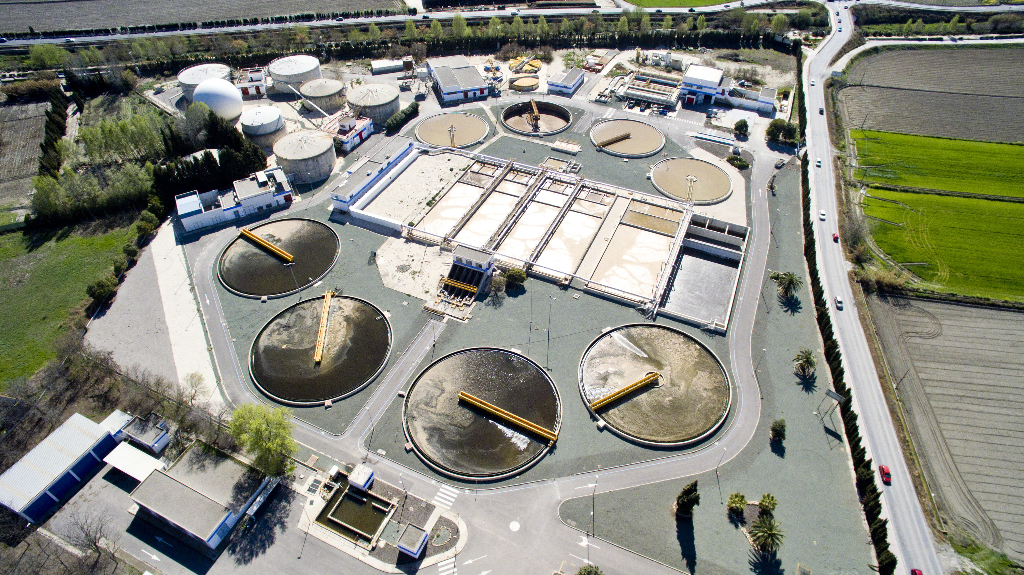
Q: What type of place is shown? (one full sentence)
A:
It's an industrial area.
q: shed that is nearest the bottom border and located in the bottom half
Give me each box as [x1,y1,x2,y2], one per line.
[397,523,430,559]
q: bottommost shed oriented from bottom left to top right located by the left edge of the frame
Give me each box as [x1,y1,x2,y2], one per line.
[0,412,119,524]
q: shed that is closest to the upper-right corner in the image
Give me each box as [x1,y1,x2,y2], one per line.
[754,89,777,112]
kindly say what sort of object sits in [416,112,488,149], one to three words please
storage tank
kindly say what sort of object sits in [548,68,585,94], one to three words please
building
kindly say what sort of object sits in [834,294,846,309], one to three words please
vehicle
